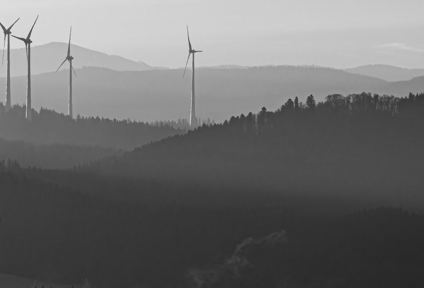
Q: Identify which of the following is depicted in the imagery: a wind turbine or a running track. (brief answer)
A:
wind turbine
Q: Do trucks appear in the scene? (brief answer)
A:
No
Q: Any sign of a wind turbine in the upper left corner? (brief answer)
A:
Yes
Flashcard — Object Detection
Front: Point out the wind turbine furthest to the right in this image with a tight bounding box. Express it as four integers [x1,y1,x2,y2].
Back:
[180,27,202,136]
